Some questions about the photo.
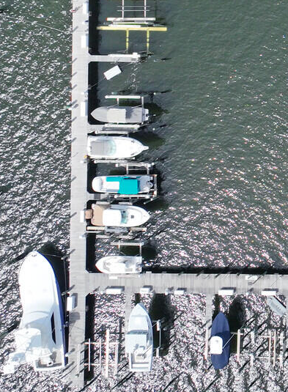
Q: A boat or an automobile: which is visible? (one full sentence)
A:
Visible in the photo is a boat.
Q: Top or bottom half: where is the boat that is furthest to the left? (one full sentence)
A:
The boat that is furthest to the left is in the bottom half of the image.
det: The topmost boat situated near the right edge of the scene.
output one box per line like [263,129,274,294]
[267,295,285,314]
